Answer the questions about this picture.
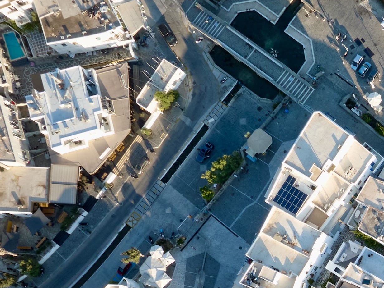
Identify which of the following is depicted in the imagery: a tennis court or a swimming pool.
swimming pool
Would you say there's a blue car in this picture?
Yes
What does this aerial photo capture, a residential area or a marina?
residential area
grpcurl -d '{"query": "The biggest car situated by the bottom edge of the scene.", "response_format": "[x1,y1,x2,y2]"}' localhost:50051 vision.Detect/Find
[116,262,137,279]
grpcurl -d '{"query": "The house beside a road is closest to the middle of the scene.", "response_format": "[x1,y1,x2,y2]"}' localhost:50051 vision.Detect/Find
[138,58,196,120]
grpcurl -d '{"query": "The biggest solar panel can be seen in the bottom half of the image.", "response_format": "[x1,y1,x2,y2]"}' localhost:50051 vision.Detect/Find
[271,174,308,213]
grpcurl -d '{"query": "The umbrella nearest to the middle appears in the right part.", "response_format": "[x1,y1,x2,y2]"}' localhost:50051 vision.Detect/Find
[247,128,272,153]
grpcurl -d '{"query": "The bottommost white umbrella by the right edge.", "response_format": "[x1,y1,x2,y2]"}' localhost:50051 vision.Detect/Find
[368,92,382,106]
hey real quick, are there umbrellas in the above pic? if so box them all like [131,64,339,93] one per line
[139,273,153,286]
[151,271,175,288]
[149,245,165,257]
[140,254,166,280]
[161,248,179,269]
[368,92,382,106]
[247,128,272,153]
